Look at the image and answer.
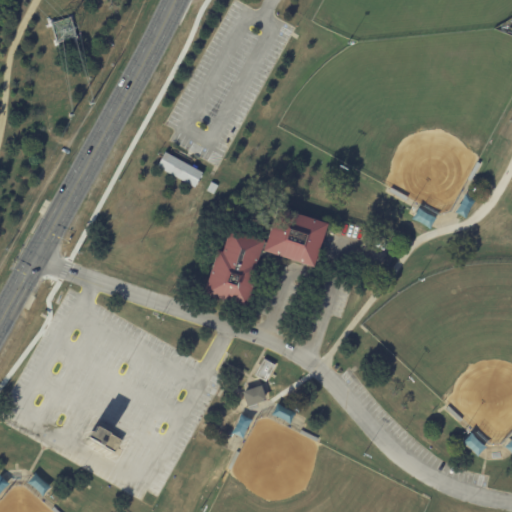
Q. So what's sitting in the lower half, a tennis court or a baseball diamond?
baseball diamond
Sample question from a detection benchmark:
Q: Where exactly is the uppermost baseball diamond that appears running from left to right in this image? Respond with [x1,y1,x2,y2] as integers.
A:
[314,0,512,41]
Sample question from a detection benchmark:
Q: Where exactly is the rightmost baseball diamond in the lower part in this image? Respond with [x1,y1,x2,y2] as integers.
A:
[364,263,512,442]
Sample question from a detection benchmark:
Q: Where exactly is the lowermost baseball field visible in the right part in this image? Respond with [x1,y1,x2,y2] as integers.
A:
[208,418,430,512]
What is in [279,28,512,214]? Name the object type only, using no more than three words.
baseball field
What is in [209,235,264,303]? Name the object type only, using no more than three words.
building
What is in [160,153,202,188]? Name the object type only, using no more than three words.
building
